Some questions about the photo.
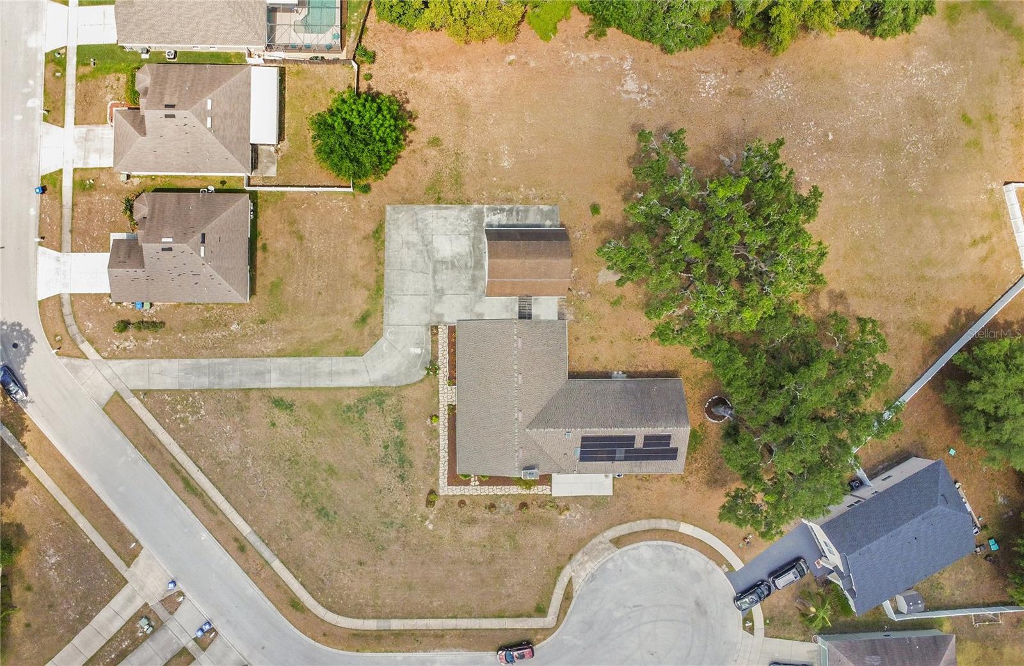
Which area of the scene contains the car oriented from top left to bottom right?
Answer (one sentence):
The car oriented from top left to bottom right is in the left part of the image.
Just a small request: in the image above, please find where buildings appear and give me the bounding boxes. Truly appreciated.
[108,192,251,302]
[484,227,571,297]
[114,0,267,53]
[108,63,252,176]
[817,631,958,666]
[456,318,690,480]
[807,458,976,617]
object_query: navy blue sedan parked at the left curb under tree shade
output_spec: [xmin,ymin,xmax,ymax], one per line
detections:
[0,363,30,405]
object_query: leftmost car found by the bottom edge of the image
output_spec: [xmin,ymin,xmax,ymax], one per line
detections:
[497,640,535,665]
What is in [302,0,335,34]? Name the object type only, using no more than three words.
swimming pool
